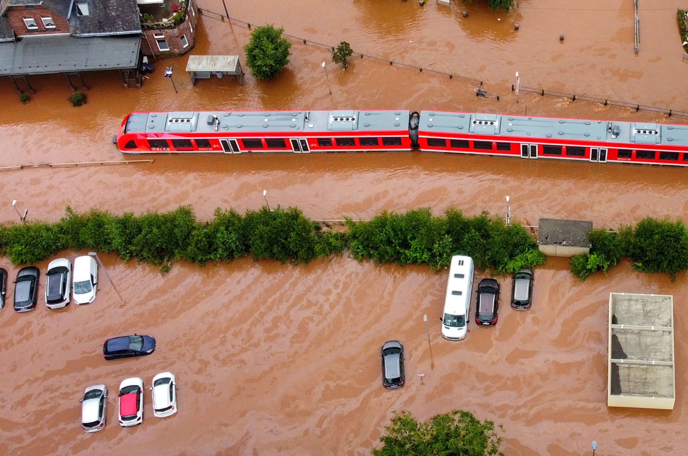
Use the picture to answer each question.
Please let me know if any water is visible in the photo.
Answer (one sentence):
Yes, the picture does contain water.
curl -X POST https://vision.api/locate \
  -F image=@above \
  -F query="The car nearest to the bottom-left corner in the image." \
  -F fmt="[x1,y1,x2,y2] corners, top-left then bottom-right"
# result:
[79,387,110,432]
